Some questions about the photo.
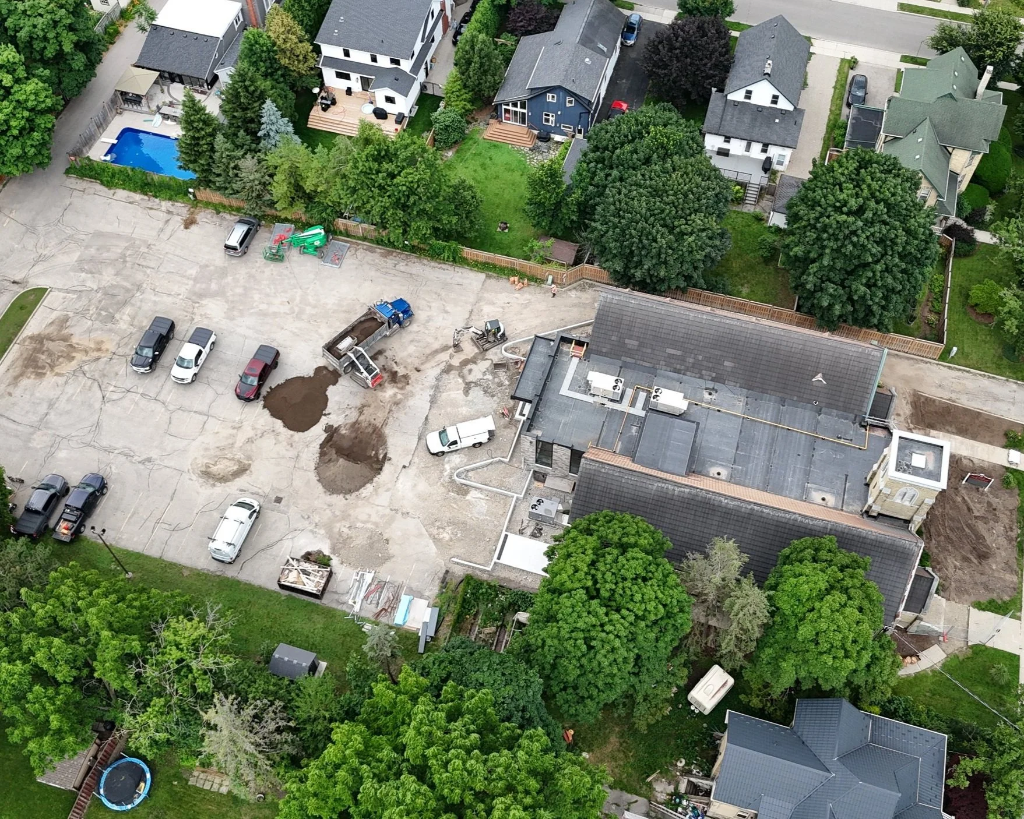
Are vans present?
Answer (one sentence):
Yes, you can see a van in this photo.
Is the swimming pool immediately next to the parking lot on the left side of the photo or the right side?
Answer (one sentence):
The swimming pool immediately next to the parking lot is on the left side of the image.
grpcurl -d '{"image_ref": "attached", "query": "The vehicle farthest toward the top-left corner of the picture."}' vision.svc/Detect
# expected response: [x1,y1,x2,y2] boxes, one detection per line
[222,213,262,257]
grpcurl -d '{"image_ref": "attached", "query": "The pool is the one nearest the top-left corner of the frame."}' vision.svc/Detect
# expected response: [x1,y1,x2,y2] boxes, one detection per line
[98,126,197,184]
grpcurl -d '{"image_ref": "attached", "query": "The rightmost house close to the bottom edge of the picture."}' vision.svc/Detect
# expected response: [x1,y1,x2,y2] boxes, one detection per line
[710,695,948,819]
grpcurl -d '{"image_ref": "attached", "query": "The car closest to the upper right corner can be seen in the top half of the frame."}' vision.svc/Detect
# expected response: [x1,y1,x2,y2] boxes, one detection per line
[847,68,871,103]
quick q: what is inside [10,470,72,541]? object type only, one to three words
truck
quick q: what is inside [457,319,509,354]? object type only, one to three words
work vehicle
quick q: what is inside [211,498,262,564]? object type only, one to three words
van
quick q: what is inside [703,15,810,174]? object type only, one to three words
house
